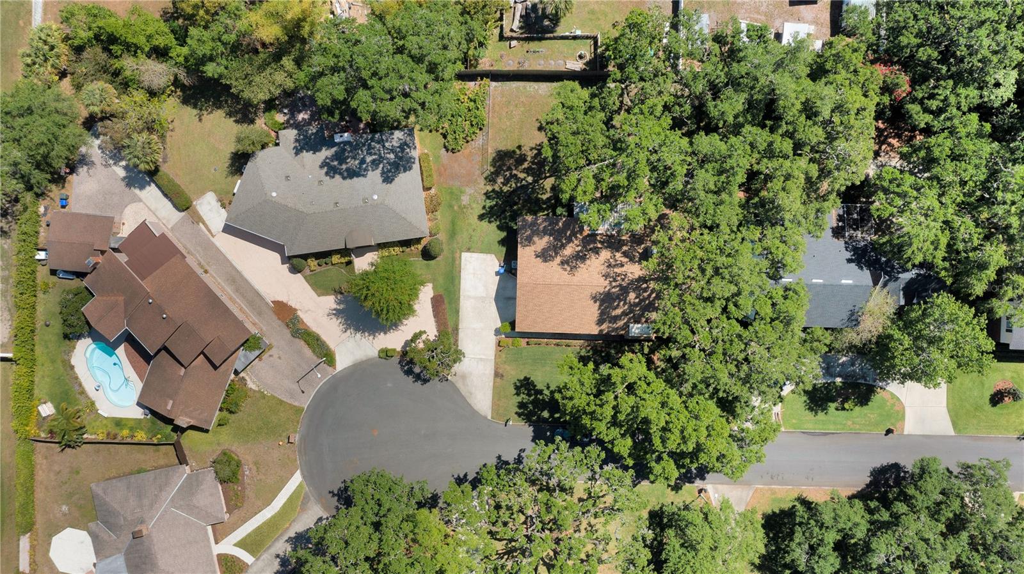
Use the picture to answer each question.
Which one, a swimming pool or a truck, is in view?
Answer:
swimming pool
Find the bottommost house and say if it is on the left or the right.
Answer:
left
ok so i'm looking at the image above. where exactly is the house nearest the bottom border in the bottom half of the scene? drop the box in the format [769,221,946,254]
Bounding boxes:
[88,465,229,574]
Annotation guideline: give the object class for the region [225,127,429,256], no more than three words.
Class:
house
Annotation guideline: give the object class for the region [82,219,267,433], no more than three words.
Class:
house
